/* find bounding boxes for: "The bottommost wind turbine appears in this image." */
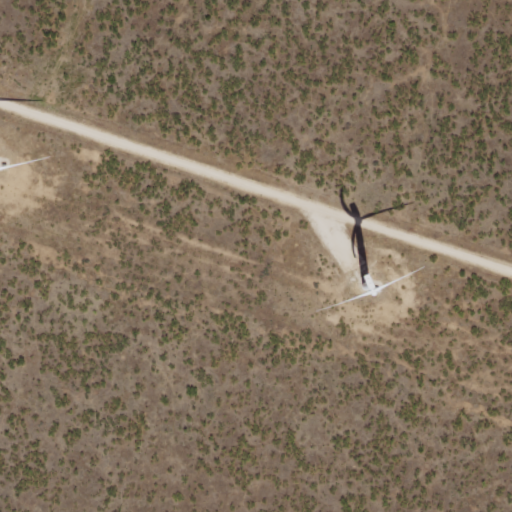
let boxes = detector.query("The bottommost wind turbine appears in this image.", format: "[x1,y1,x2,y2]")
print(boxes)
[322,268,430,312]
